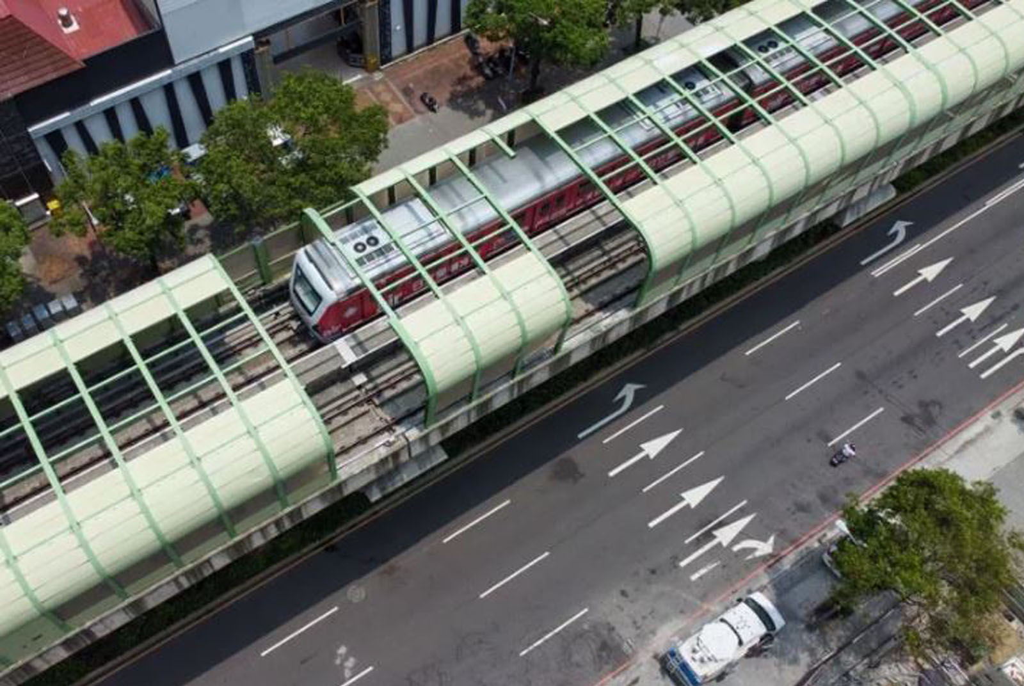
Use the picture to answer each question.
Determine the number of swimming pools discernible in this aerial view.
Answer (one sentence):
The picture shows no swimming pools.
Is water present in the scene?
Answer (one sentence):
No, the scene doesn't show any water.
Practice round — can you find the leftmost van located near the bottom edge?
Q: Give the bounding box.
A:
[658,587,778,686]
